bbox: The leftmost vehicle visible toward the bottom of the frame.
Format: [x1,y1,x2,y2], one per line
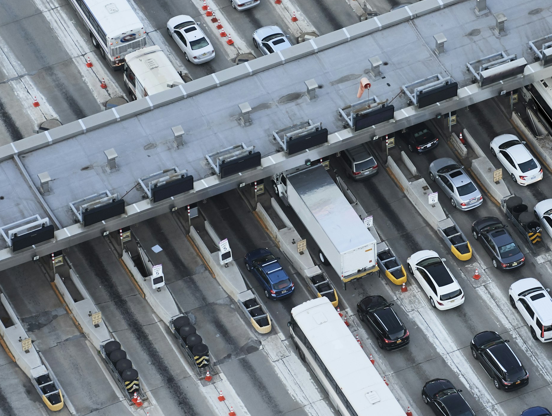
[246,249,296,304]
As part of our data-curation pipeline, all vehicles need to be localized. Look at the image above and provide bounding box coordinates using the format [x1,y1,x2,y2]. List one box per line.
[230,0,264,16]
[165,14,217,69]
[288,302,408,416]
[269,158,380,293]
[358,296,412,357]
[421,378,474,416]
[407,250,466,315]
[430,158,485,216]
[123,52,183,100]
[253,28,289,56]
[522,406,552,416]
[532,196,552,238]
[65,0,147,71]
[508,280,552,349]
[334,143,380,184]
[491,134,544,190]
[472,216,526,275]
[398,122,440,158]
[246,249,296,304]
[473,333,532,398]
